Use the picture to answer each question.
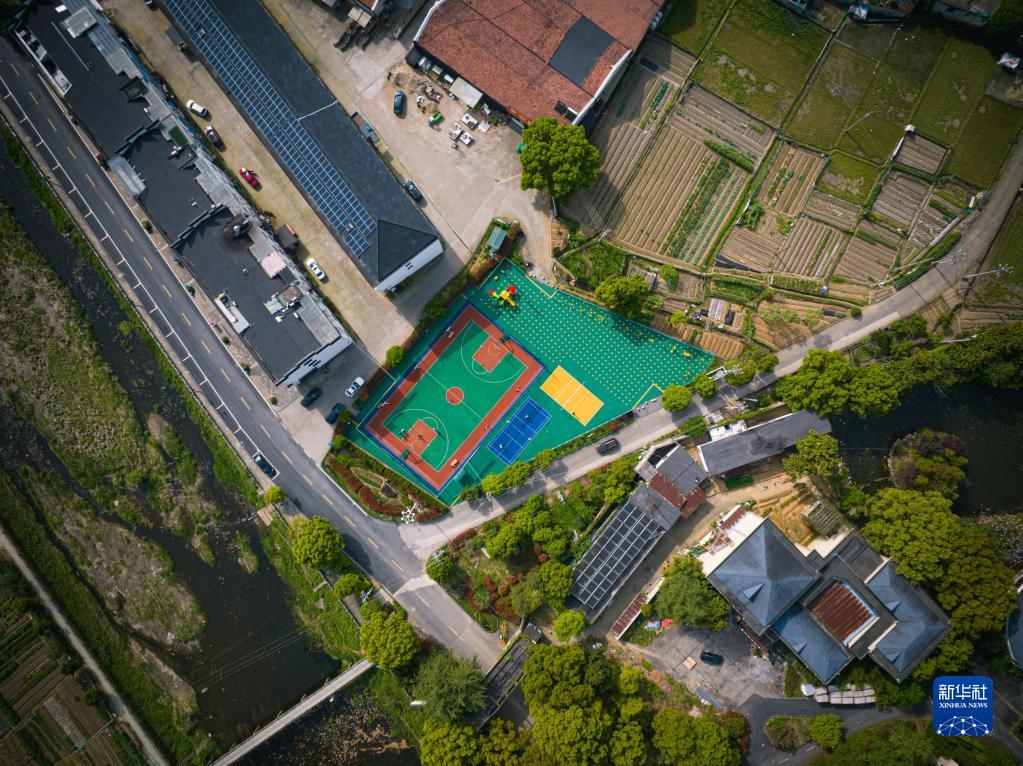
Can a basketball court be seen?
Yes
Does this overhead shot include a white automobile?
Yes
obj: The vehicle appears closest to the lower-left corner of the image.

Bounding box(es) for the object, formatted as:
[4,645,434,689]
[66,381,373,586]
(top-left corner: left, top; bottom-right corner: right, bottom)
[254,453,275,475]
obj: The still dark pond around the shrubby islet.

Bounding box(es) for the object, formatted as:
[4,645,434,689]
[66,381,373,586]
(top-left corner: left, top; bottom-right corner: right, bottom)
[833,383,1023,514]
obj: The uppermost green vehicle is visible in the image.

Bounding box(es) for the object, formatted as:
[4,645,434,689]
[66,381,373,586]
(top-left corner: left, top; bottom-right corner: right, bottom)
[429,109,444,124]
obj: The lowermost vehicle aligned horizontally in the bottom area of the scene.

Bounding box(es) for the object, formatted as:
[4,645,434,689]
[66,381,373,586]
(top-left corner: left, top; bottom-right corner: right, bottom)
[700,651,724,664]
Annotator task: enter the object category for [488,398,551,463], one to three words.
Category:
sports court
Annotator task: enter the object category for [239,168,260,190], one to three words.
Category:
car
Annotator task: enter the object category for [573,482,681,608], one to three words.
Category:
shed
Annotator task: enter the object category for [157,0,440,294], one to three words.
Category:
building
